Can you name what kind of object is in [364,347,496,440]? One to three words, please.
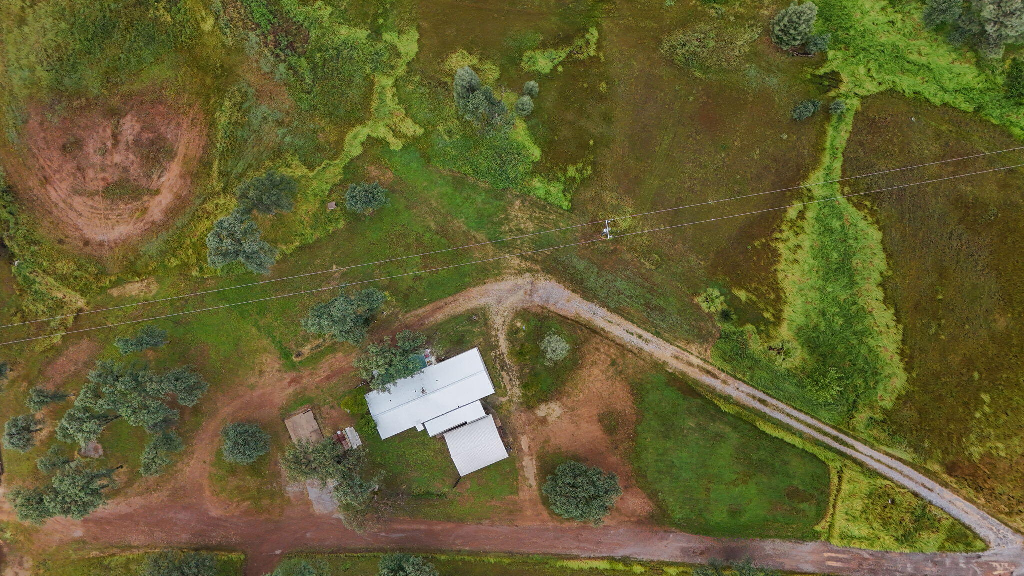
house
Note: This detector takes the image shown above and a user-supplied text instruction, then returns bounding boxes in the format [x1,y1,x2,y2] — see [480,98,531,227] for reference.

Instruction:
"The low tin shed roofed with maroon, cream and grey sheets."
[332,427,362,451]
